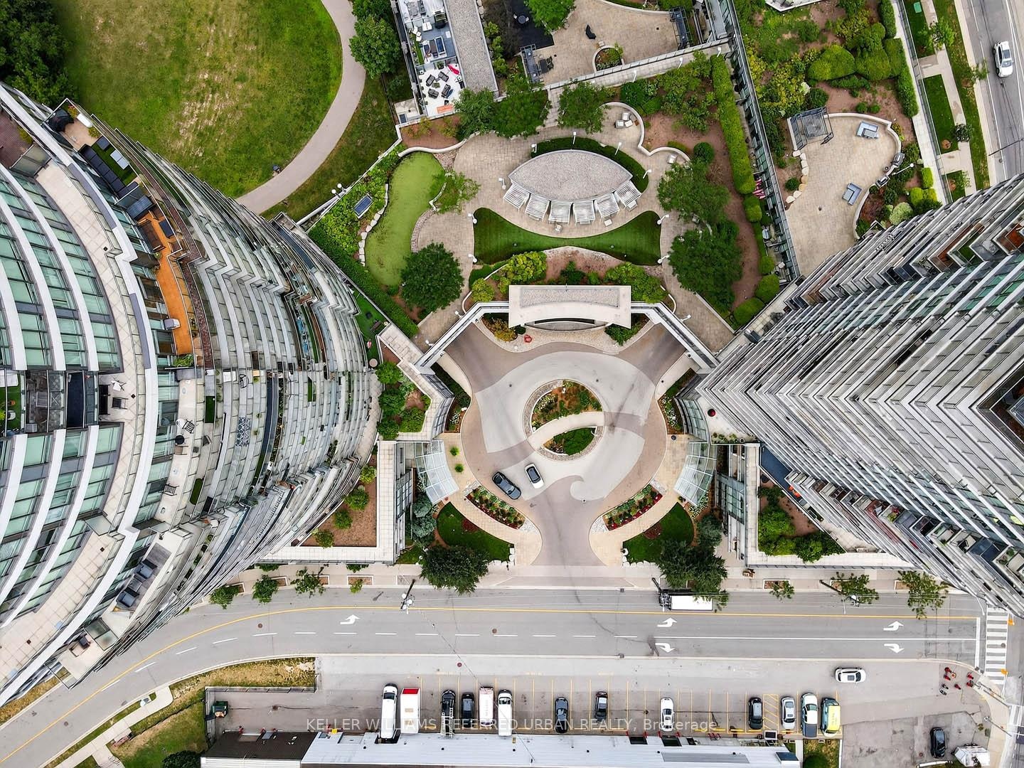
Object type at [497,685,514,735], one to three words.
vehicle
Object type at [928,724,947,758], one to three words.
car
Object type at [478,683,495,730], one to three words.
vehicle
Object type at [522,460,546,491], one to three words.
car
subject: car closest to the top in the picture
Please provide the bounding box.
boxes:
[992,40,1014,79]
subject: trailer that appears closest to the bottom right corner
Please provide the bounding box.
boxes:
[946,743,994,768]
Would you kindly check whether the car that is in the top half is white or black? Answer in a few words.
white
